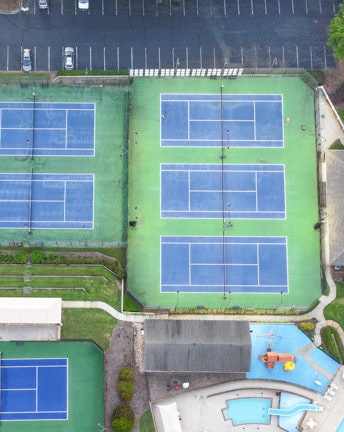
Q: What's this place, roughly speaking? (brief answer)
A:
sports ground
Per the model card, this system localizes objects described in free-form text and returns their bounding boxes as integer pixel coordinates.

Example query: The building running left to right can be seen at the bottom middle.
[144,319,251,373]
